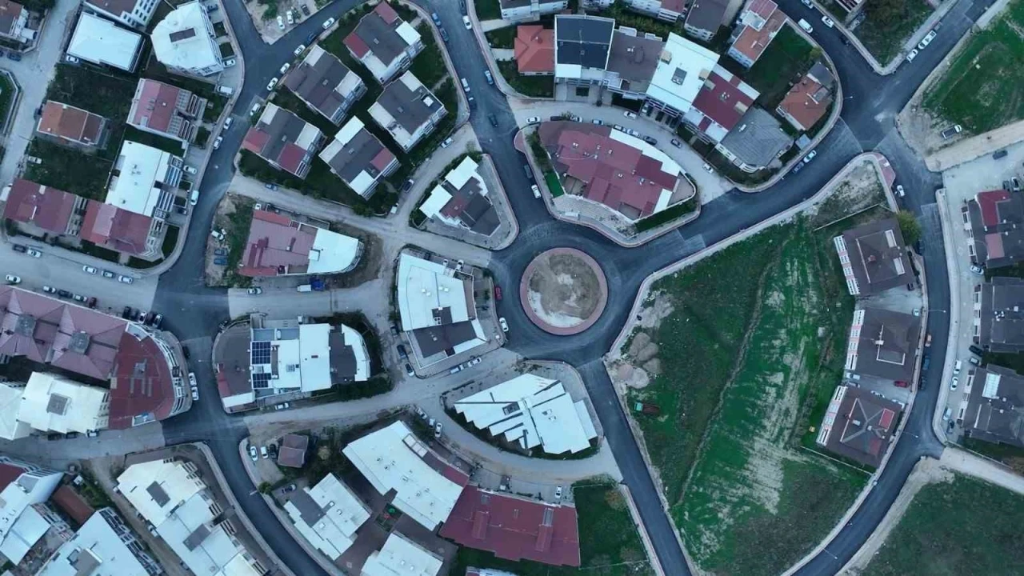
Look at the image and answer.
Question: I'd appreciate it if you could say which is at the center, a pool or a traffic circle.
traffic circle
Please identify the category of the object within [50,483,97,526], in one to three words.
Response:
shed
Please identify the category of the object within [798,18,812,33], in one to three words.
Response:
vehicle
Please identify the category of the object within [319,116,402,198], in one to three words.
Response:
house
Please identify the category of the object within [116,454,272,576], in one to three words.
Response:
building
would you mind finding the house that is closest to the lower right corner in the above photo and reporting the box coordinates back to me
[951,363,1024,447]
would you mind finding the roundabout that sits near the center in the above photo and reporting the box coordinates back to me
[520,247,608,334]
